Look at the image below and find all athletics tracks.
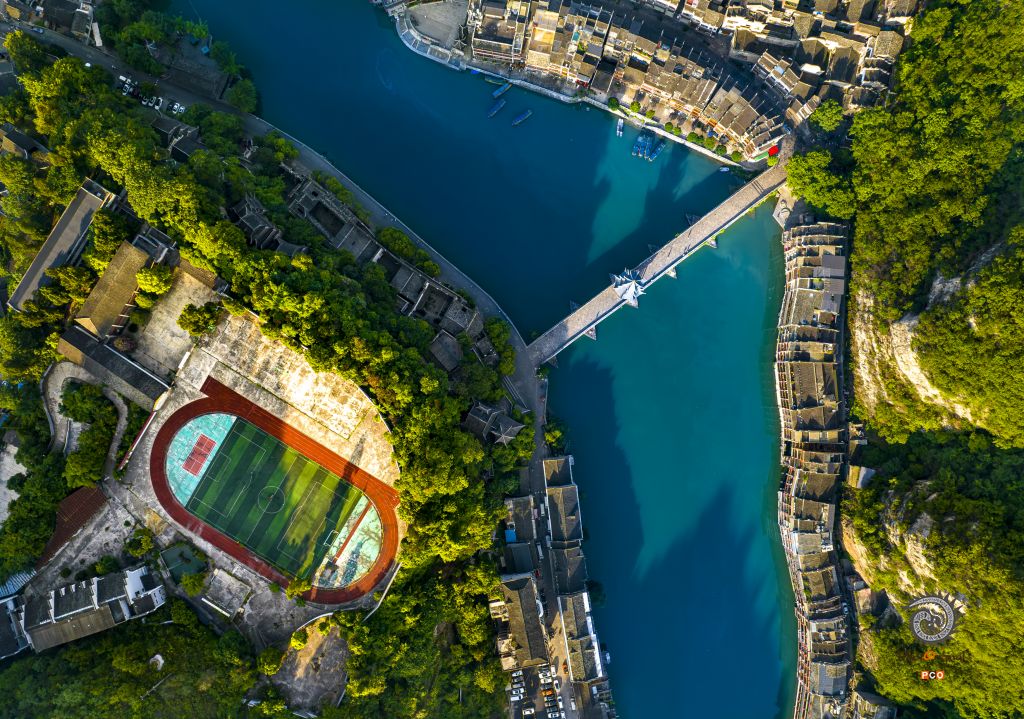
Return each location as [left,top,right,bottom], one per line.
[147,398,402,604]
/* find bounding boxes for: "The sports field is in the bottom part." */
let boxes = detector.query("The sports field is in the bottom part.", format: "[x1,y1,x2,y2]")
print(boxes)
[147,378,402,604]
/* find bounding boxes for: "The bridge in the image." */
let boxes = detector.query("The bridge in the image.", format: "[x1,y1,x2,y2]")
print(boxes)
[528,161,796,368]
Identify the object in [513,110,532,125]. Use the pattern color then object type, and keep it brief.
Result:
blue boat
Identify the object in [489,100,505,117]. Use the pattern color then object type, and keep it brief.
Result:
blue boat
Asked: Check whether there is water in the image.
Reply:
Yes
